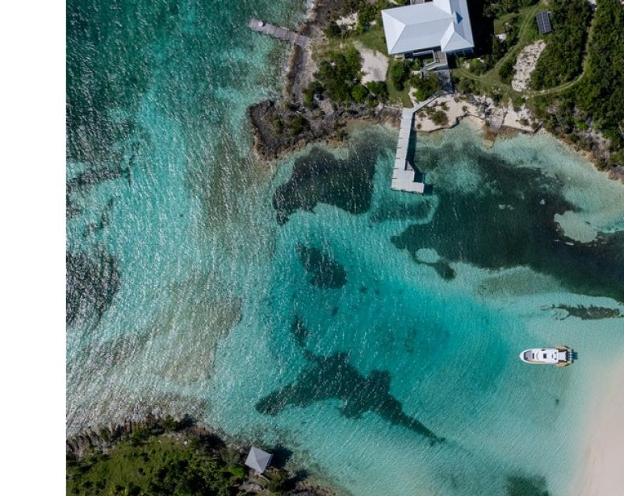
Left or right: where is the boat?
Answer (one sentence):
The boat is on the right side of the image.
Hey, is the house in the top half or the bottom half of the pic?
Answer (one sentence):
The house is in the top half of the image.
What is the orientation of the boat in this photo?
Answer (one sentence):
In this picture, the boat is oriented from side to side.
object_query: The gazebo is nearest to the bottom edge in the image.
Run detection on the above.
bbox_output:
[245,446,277,481]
